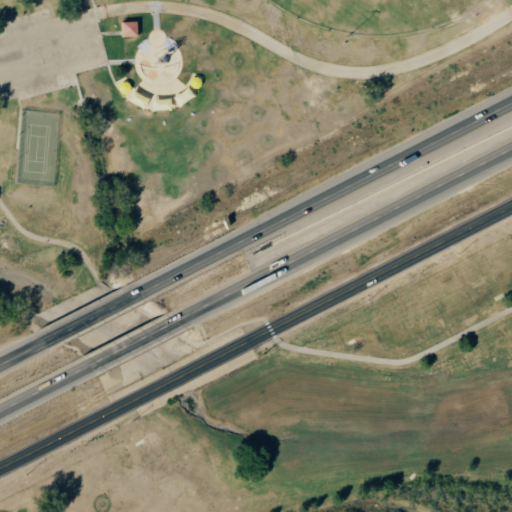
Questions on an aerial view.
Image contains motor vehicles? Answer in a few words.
Yes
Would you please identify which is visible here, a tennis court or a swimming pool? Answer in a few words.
tennis court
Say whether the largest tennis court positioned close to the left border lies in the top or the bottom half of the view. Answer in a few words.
top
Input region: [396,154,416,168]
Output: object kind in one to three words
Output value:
vehicle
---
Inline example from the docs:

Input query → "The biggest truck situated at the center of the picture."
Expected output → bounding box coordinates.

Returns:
[241,270,286,296]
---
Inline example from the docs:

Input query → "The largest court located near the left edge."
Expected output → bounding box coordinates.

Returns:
[17,110,60,186]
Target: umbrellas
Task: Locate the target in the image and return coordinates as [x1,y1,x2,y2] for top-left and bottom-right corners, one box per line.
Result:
[191,78,202,89]
[120,82,132,93]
